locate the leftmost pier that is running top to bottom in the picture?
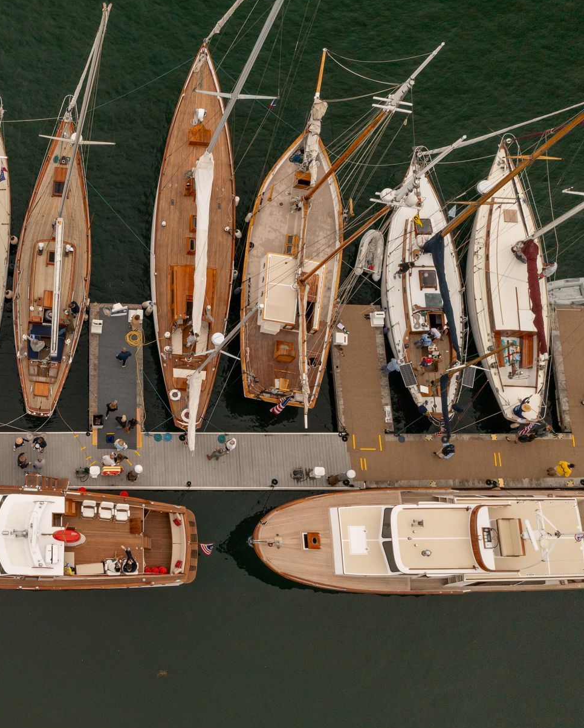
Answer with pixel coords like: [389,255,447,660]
[88,304,143,433]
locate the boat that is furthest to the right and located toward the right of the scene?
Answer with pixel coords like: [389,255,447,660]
[548,276,584,306]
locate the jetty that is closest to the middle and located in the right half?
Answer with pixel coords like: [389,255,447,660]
[333,305,393,433]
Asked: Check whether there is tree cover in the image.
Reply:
No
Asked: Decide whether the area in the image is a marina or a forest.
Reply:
marina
